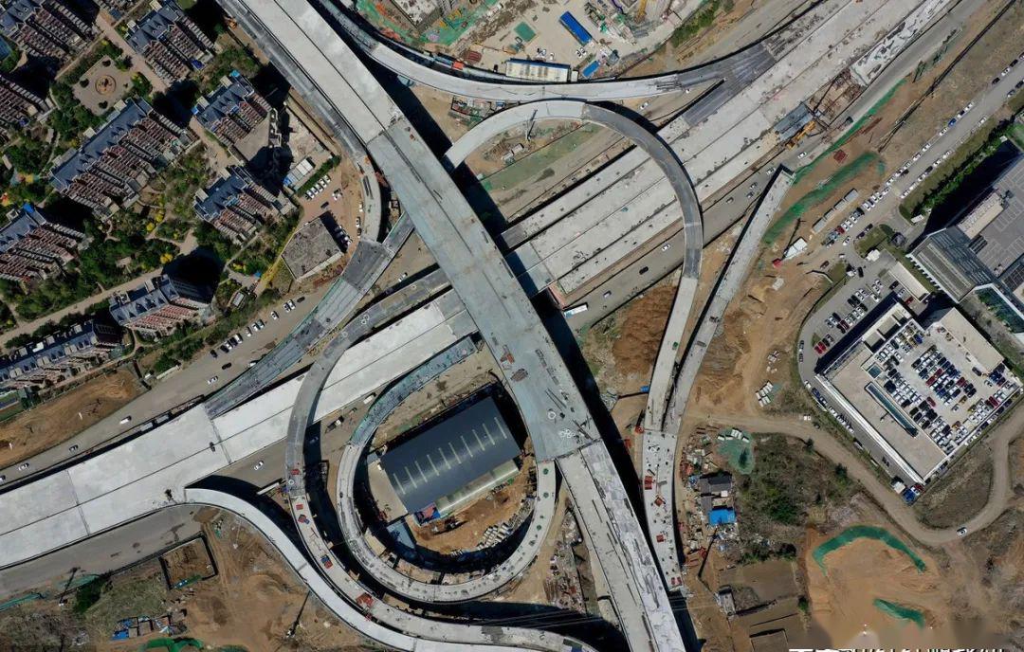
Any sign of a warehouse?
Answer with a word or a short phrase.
Yes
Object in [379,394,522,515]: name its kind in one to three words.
warehouse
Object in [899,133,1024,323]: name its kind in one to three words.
building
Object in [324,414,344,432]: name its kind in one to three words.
vehicle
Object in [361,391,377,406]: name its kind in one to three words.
vehicle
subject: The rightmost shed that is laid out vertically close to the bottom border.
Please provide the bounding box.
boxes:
[716,587,737,621]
